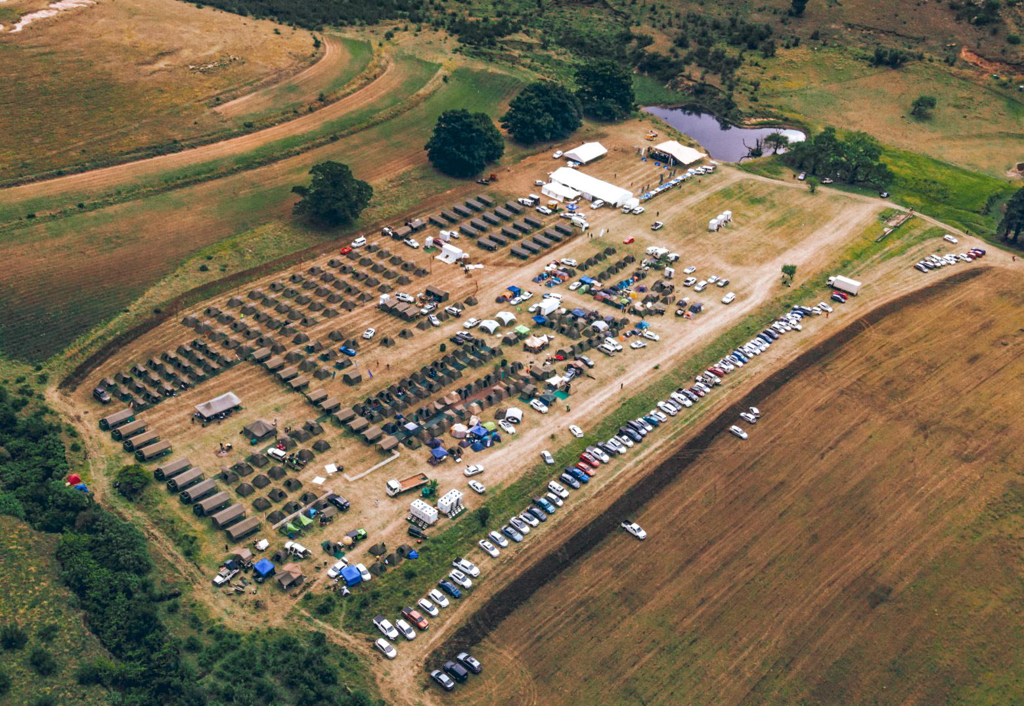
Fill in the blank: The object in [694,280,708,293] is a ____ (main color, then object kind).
white vehicle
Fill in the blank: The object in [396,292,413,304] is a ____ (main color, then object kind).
white vehicle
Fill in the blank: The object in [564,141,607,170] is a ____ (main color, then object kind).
white tent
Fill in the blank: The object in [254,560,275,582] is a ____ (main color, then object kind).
blue gazebo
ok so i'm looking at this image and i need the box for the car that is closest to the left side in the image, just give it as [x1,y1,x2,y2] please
[94,387,110,403]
